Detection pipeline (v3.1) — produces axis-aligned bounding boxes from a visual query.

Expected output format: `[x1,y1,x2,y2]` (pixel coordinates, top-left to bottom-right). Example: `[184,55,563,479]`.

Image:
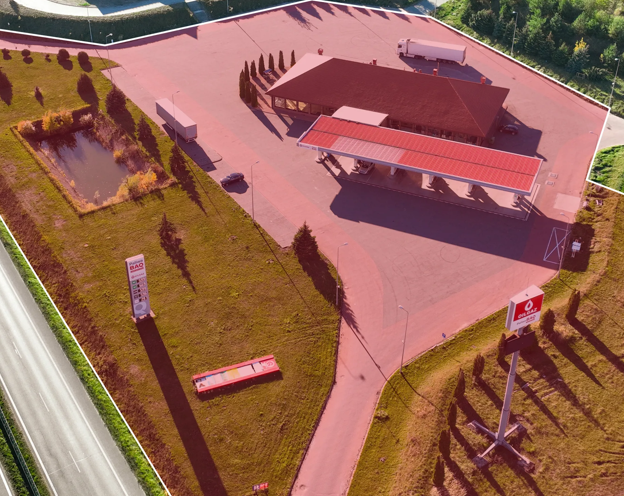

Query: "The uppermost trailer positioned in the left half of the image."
[156,98,198,143]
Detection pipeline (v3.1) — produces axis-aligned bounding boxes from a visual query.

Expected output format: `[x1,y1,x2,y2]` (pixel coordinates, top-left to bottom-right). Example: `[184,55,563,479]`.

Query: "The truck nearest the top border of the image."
[398,38,467,63]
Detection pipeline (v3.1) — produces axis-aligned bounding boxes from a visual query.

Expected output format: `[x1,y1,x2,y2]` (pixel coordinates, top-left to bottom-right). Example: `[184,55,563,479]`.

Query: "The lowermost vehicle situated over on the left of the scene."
[219,170,247,185]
